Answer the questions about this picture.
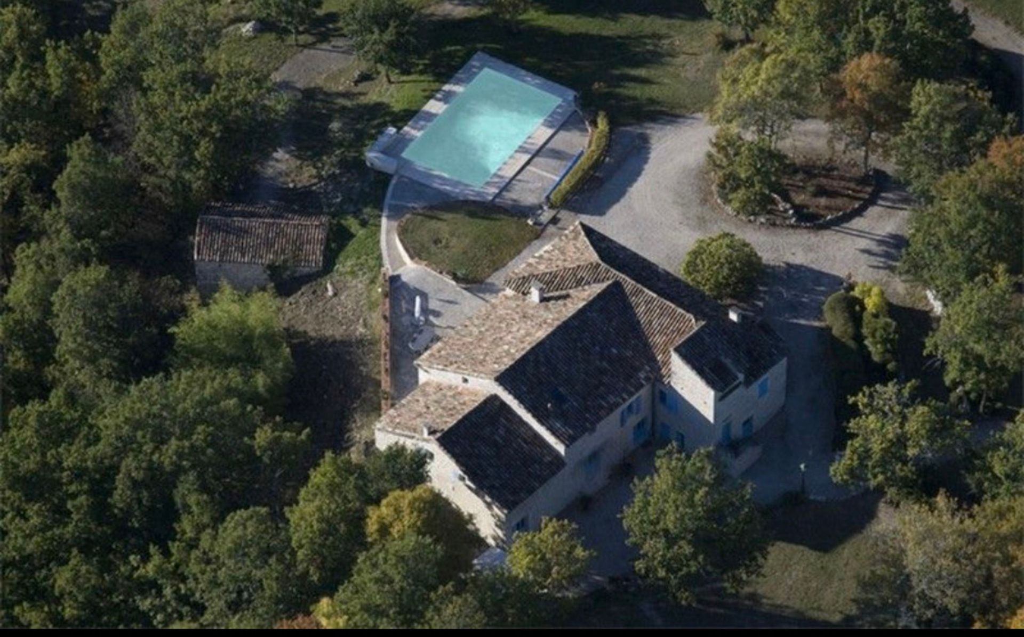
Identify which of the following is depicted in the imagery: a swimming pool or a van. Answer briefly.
swimming pool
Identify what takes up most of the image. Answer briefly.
trees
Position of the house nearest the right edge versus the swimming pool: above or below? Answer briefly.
below it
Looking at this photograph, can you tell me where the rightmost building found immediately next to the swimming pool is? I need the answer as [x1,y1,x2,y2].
[369,221,788,547]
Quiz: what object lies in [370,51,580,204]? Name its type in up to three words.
swimming pool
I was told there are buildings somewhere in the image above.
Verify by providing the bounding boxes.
[369,221,788,547]
[193,199,332,291]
